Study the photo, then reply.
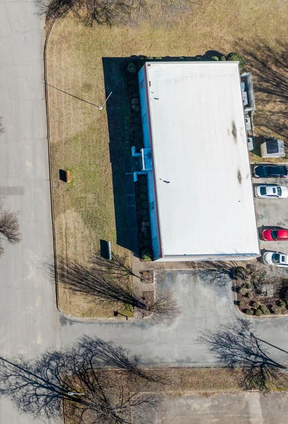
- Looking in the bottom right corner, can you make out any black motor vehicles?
No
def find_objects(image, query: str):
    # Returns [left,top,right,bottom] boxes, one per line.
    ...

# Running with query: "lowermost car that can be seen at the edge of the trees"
[262,249,288,267]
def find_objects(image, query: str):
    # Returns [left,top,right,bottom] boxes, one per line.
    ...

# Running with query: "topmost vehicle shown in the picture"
[252,162,288,179]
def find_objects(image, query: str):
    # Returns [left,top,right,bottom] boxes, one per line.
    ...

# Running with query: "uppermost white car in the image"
[254,183,288,199]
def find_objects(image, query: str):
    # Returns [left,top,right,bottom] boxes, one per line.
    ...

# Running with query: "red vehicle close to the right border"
[260,226,288,242]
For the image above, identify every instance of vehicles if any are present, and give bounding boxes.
[260,226,288,242]
[262,249,288,267]
[252,162,288,179]
[254,183,288,199]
